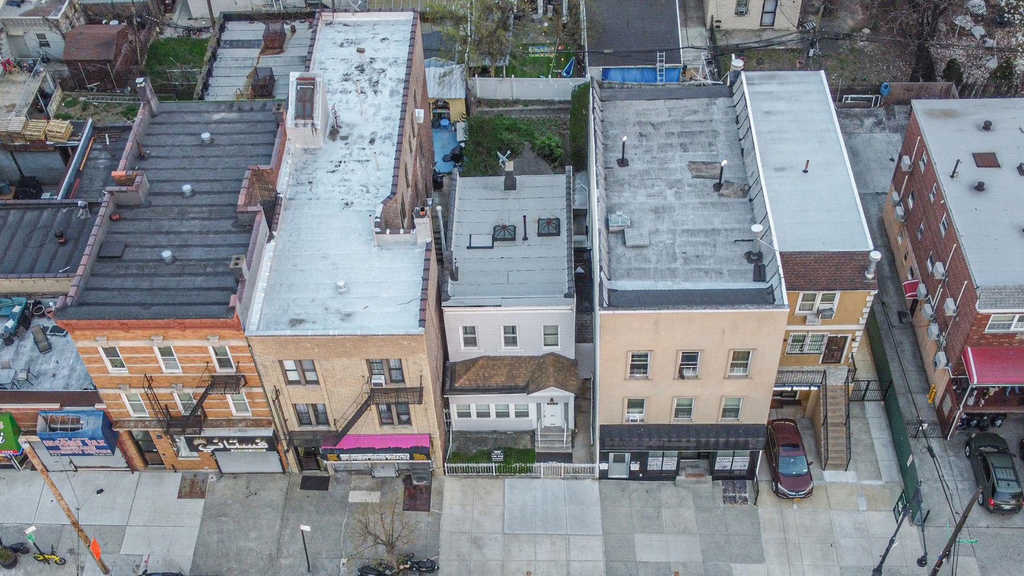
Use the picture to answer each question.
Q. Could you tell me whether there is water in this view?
No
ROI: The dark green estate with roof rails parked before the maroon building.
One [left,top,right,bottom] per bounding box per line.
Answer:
[969,437,1024,519]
